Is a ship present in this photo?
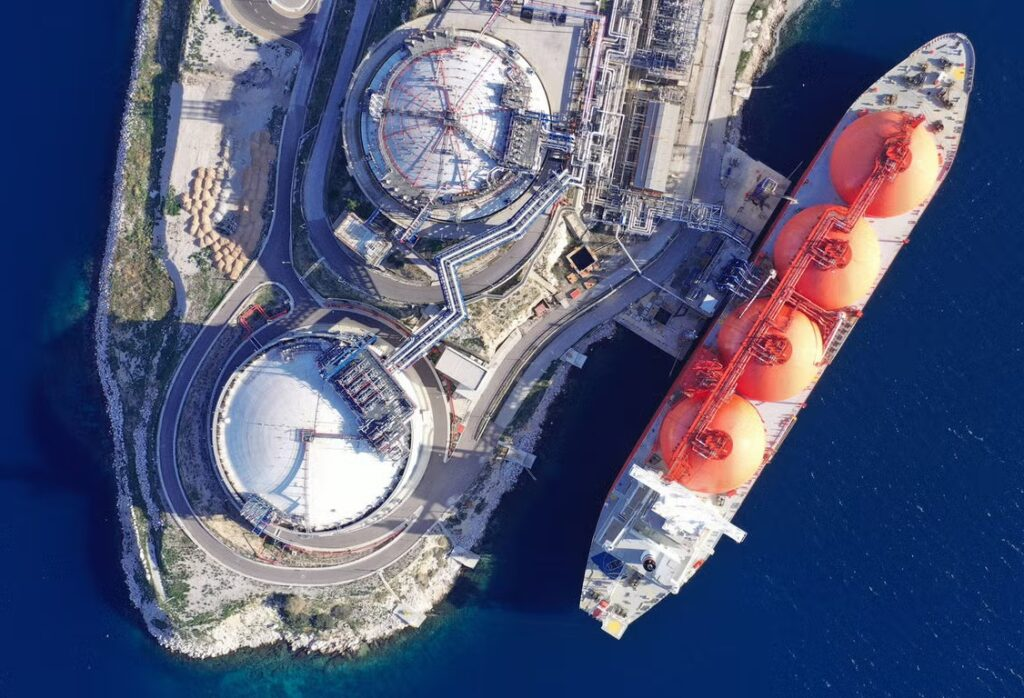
Yes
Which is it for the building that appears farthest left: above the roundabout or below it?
below it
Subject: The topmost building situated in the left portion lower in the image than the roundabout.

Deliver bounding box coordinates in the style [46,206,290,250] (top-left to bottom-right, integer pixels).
[332,211,394,266]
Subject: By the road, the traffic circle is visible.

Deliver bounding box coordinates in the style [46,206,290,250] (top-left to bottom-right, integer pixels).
[226,0,351,56]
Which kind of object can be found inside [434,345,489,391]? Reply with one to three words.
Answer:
building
